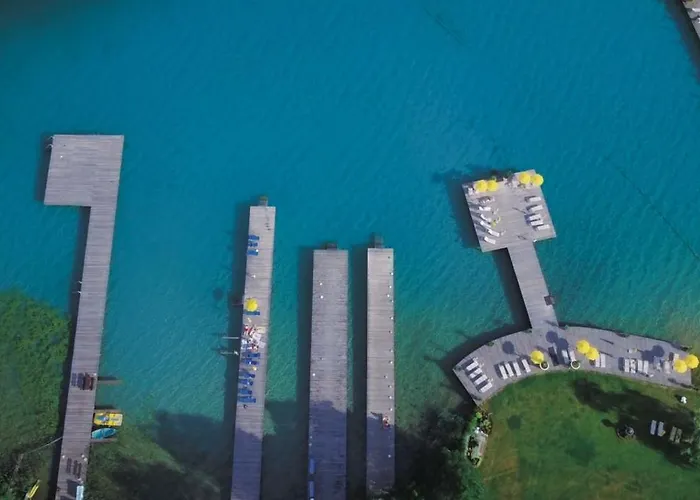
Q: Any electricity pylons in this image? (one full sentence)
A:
No, there isn't any electricity pylon down there.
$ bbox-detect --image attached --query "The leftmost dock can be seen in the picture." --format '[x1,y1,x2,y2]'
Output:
[42,135,124,500]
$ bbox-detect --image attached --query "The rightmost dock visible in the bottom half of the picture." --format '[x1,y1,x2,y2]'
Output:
[366,238,394,500]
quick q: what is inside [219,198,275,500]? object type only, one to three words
pier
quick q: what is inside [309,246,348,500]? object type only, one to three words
pier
